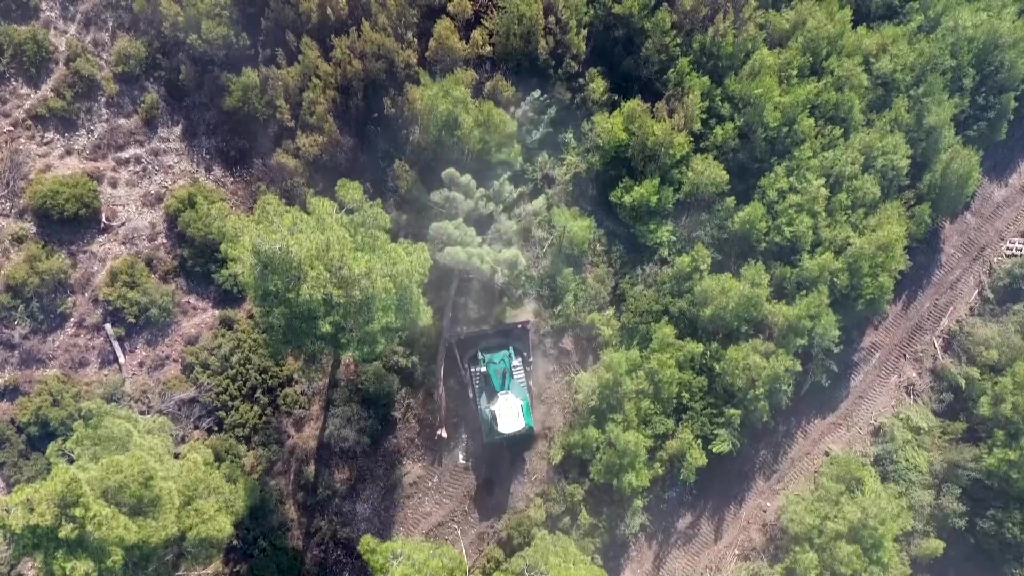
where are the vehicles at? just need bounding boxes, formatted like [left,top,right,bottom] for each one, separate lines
[456,315,544,453]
